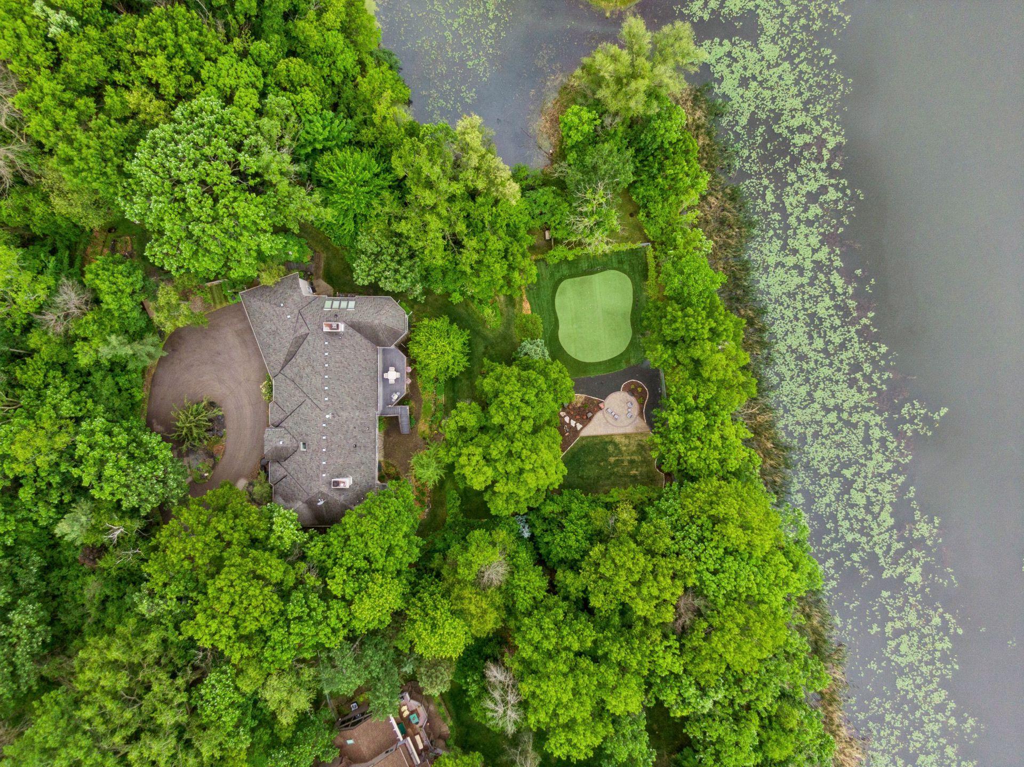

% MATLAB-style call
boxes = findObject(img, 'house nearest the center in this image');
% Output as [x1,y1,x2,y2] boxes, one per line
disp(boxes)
[239,272,409,527]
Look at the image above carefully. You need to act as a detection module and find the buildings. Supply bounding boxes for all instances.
[324,702,430,767]
[239,272,409,527]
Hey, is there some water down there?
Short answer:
Yes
